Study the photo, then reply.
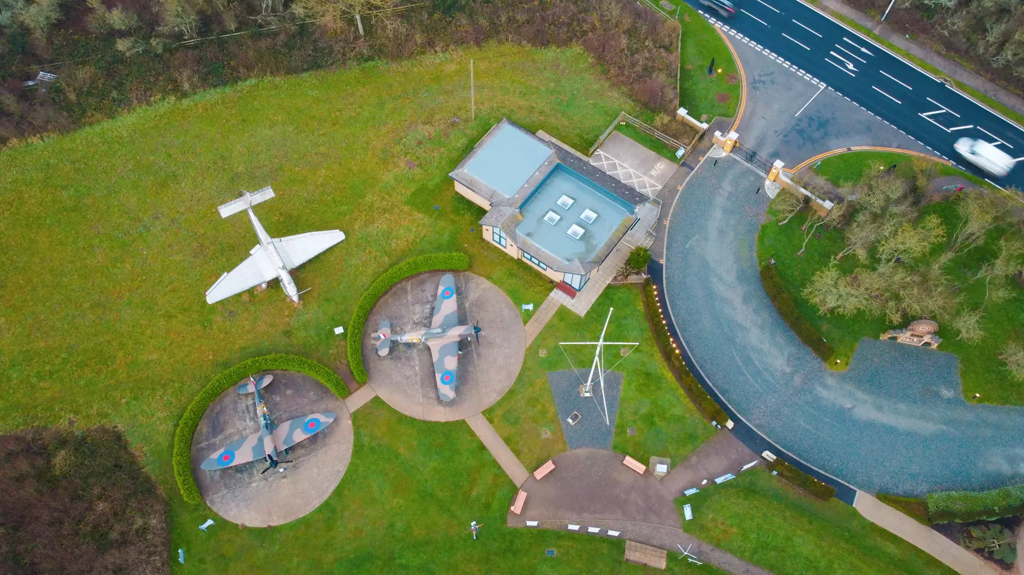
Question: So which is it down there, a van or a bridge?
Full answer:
Of the two, only a van appears.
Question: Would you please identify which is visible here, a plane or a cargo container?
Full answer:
There is a plane in the scene.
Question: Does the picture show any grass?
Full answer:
Yes, some grass is visible.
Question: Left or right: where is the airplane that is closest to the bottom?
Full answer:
The airplane that is closest to the bottom appears in the left half of the scene.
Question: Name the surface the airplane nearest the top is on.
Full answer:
The airplane nearest the top is on the grass.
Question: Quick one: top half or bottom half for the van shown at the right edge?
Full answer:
Seen from above, the van shown at the right edge lies in the top half of the view.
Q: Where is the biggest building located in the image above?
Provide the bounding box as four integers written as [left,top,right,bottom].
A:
[446,118,651,290]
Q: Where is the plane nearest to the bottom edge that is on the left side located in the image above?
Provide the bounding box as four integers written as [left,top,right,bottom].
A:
[200,374,335,475]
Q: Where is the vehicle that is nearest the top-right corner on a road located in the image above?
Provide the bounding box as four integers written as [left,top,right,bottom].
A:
[958,141,1022,182]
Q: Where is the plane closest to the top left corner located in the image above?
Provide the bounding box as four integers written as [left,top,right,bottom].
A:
[207,186,347,306]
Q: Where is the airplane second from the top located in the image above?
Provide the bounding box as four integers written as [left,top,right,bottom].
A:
[371,273,481,400]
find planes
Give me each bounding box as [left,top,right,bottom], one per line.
[207,186,347,306]
[200,374,335,475]
[371,273,481,400]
